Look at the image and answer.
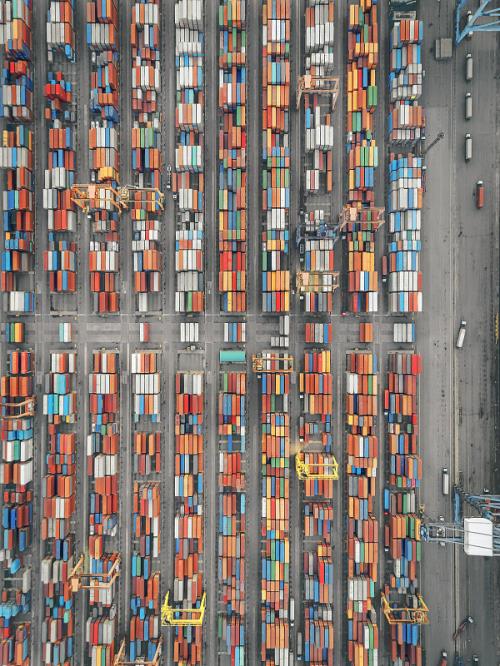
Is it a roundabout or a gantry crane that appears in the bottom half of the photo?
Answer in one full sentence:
What appears in the bottom half of the photo is a gantry crane.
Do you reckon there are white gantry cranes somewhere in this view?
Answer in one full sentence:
Yes, the frame does contain a white gantry crane.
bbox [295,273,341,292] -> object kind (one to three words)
container crane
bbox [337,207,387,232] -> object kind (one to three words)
container crane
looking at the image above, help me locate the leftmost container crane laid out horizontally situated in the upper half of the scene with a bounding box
[71,185,123,210]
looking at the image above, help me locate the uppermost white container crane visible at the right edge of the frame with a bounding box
[419,485,500,557]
